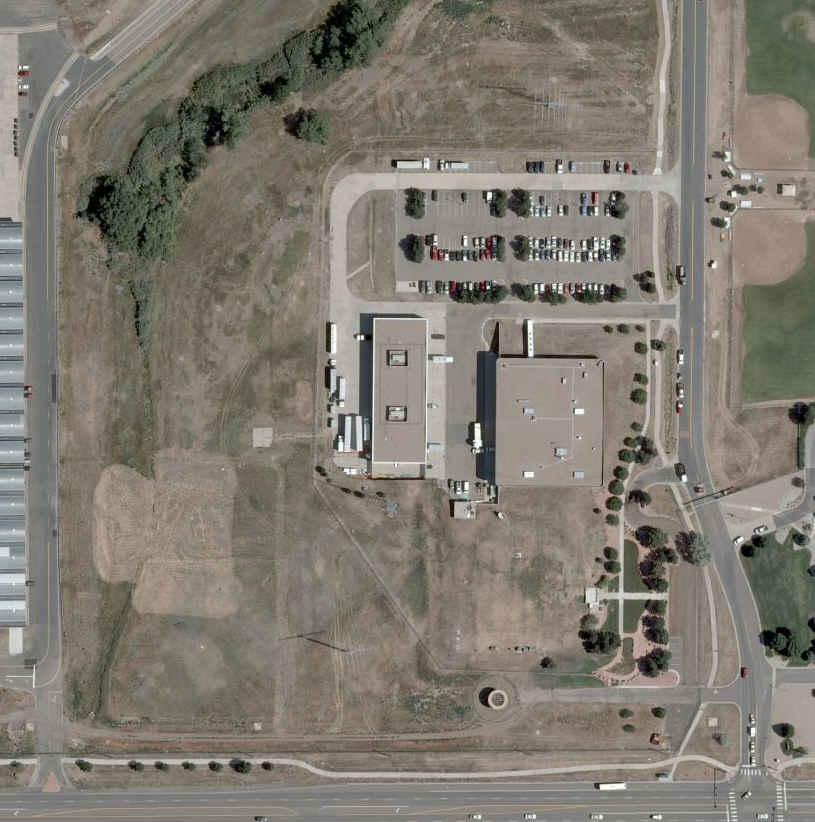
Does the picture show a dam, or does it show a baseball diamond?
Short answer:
baseball diamond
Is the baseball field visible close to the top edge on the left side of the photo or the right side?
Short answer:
right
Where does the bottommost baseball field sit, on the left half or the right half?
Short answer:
right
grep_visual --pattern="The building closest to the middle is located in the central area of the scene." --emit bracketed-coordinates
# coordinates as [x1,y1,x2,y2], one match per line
[373,318,428,478]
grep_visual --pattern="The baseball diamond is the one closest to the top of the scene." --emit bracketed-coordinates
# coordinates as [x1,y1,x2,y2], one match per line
[735,0,815,169]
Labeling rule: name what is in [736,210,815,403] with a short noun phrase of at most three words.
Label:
baseball field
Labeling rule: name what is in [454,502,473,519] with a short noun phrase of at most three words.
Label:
shed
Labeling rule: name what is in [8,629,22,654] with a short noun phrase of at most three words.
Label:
shed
